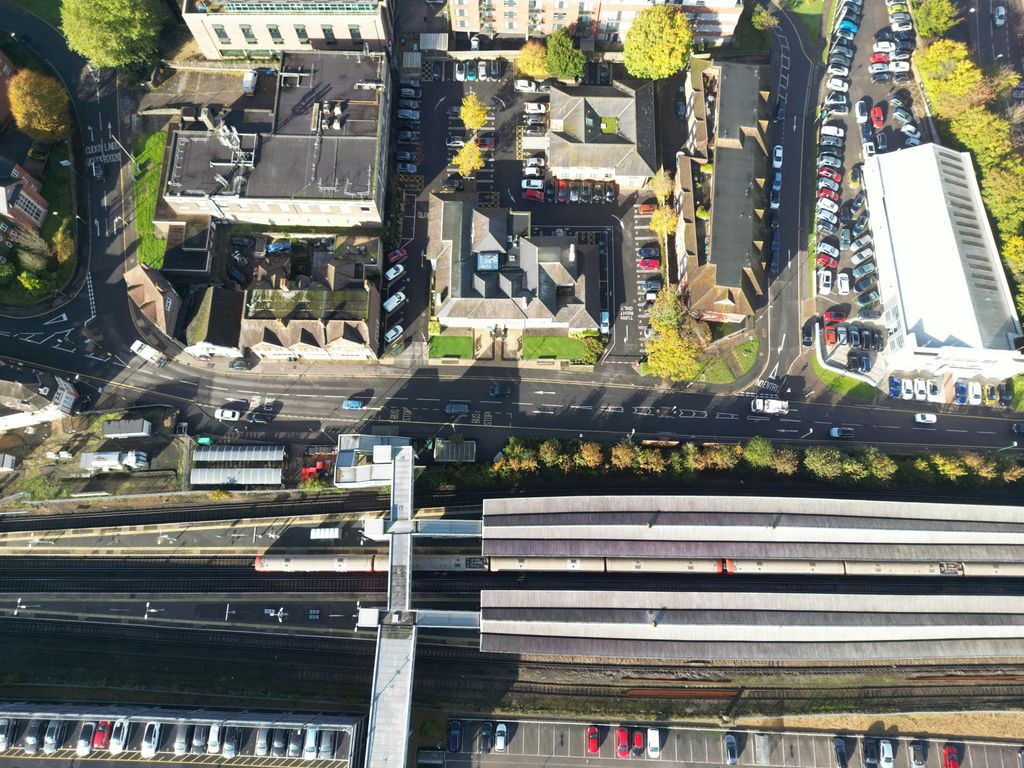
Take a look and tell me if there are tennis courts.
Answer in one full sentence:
No, the photo shows no tennis court.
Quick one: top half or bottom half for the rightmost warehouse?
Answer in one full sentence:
The rightmost warehouse is in the top half of the image.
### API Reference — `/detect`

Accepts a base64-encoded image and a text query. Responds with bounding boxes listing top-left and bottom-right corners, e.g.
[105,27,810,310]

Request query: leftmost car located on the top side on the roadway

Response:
[92,163,106,184]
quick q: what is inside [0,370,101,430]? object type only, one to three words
house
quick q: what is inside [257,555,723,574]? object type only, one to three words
train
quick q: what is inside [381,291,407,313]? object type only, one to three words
vehicle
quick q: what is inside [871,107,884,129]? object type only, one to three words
vehicle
